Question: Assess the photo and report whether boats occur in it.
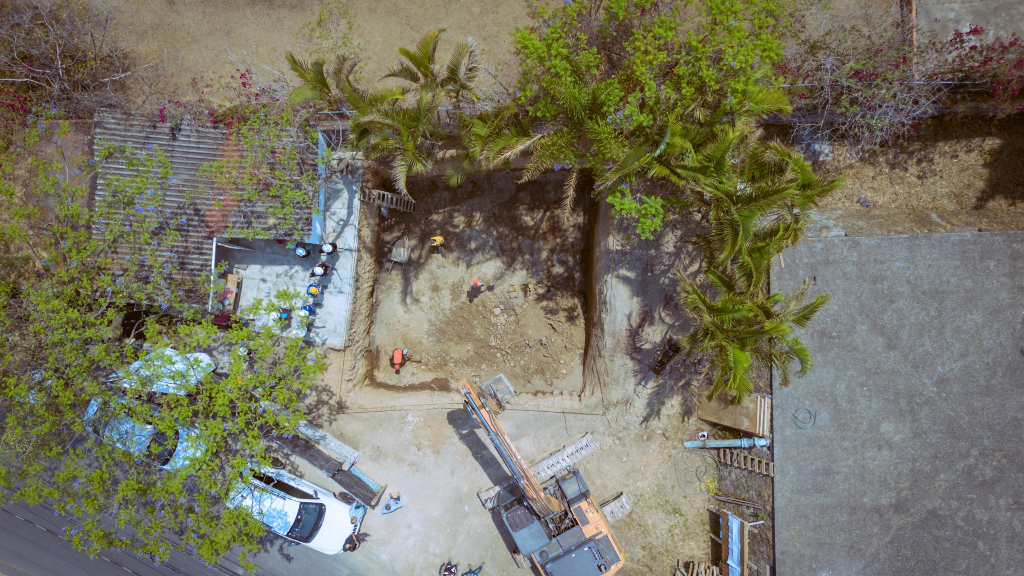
No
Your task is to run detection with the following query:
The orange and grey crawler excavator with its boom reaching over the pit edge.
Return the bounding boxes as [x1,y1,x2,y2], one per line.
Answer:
[460,369,635,576]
